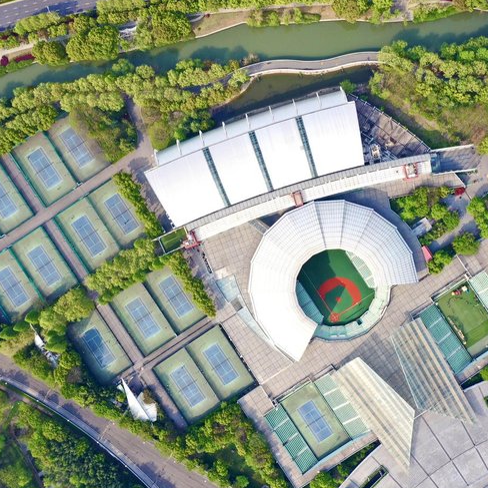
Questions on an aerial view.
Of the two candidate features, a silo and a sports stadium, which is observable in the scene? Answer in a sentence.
The one in the frame is a sports stadium.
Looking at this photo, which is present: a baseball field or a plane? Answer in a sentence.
Looking from above, you can make out a baseball field.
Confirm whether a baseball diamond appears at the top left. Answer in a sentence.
No, there is no baseball diamond at the top left.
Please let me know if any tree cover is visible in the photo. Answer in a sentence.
Yes, there's tree cover in this view.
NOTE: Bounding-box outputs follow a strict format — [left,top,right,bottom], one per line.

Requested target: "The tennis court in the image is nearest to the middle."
[144,262,207,334]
